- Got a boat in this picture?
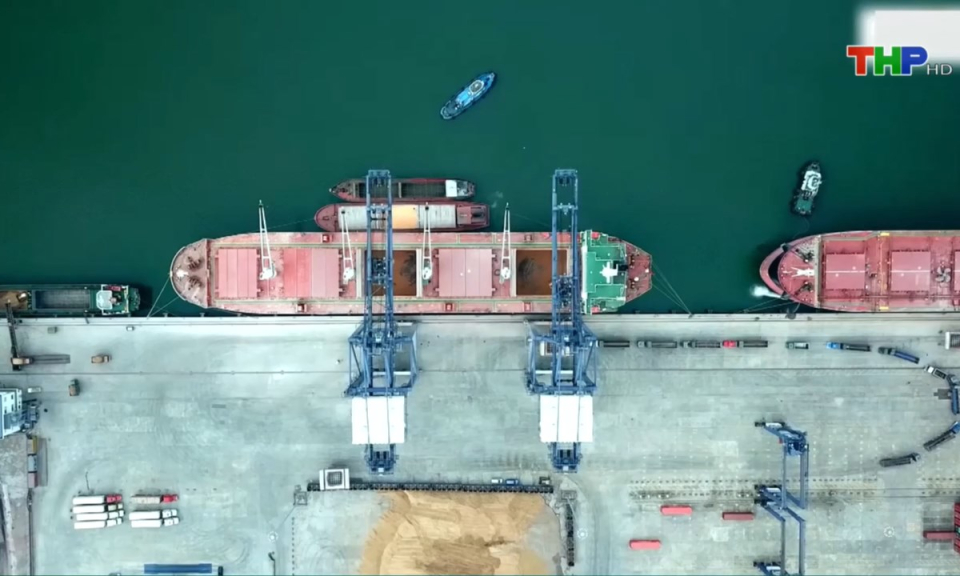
Yes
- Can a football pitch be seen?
No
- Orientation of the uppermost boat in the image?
diagonally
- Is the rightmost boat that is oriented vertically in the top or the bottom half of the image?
top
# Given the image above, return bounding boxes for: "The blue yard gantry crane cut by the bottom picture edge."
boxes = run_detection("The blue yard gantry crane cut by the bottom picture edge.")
[755,497,809,576]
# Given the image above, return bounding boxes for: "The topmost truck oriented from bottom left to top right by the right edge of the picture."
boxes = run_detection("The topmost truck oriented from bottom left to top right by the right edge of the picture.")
[922,421,960,451]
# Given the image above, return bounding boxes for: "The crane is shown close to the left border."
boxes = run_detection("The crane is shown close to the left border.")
[3,296,34,372]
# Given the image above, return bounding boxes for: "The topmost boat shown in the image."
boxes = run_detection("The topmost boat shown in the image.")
[438,68,497,122]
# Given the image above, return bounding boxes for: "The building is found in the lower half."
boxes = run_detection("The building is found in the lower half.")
[0,387,29,445]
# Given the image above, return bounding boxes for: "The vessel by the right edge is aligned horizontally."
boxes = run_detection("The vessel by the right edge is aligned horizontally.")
[746,230,960,314]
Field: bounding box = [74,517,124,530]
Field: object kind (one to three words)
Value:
vehicle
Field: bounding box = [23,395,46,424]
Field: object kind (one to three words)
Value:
work vehicle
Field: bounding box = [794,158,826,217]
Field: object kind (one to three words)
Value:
boat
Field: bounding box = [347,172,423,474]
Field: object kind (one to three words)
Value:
container crane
